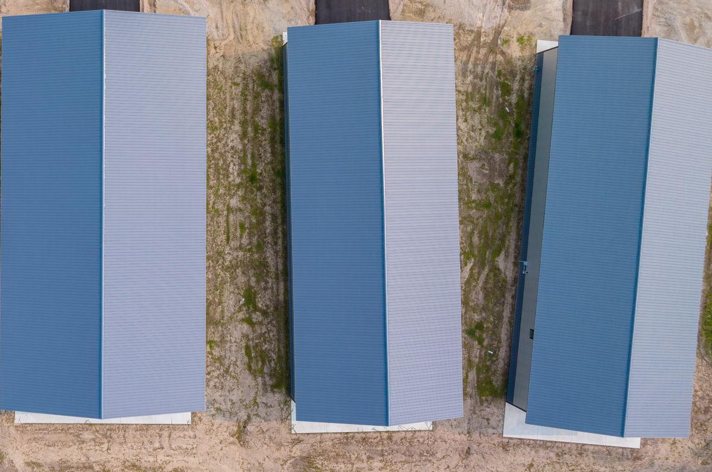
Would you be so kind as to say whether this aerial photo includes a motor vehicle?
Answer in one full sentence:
No, this view has no motor vehicle in it.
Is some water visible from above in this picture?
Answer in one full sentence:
No, water can't be seen anywhere here.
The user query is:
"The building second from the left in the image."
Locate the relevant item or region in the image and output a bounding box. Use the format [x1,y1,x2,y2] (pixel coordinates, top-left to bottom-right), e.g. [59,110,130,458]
[282,19,463,434]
